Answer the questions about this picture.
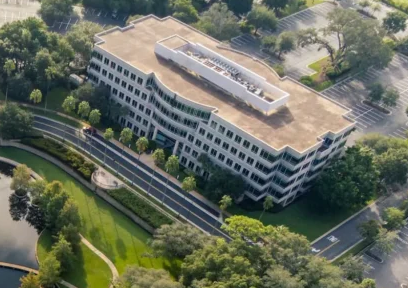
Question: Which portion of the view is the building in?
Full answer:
The building is located in the center region of the scene.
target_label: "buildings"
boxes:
[89,14,356,214]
